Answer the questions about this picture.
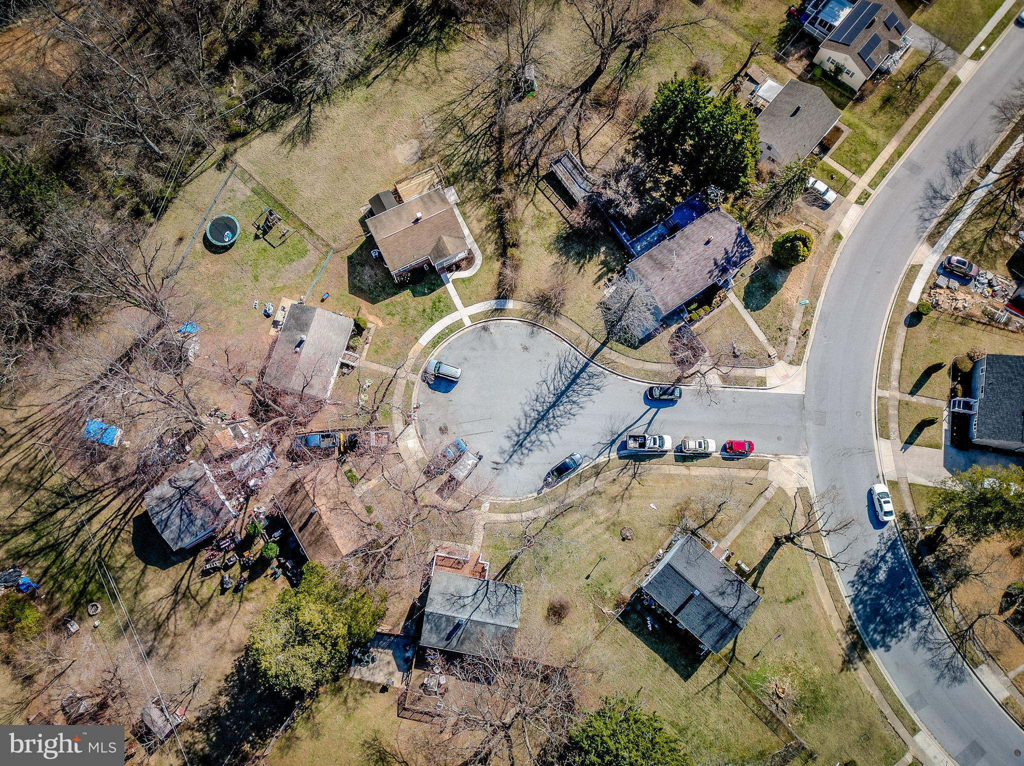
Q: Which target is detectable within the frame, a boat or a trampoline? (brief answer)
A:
trampoline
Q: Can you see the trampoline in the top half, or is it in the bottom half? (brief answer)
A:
top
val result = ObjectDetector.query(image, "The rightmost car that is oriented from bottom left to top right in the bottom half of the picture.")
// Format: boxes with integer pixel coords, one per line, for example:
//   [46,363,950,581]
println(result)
[544,452,583,487]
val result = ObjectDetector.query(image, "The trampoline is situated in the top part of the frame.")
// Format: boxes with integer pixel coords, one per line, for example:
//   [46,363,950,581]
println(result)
[206,213,240,246]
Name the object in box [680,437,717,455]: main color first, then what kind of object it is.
white car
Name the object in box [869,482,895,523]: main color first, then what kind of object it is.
white car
